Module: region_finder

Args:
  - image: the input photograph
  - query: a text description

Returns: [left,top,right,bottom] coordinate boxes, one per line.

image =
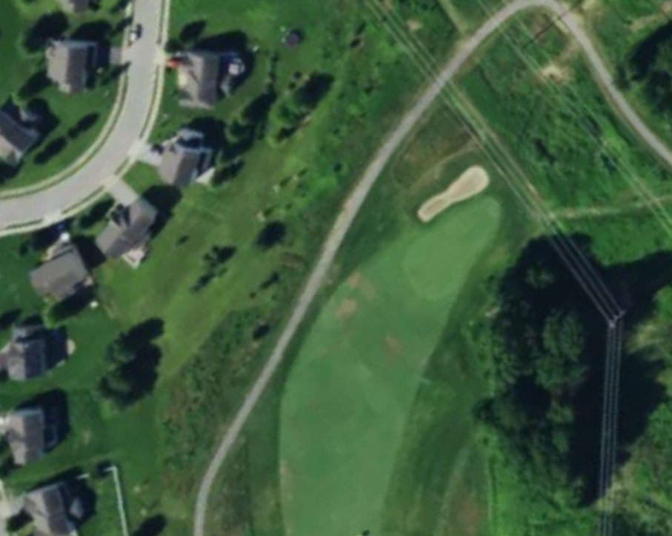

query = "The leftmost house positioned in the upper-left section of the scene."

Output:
[0,104,36,166]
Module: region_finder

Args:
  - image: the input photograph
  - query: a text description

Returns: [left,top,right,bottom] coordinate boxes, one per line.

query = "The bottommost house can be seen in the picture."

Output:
[20,484,79,536]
